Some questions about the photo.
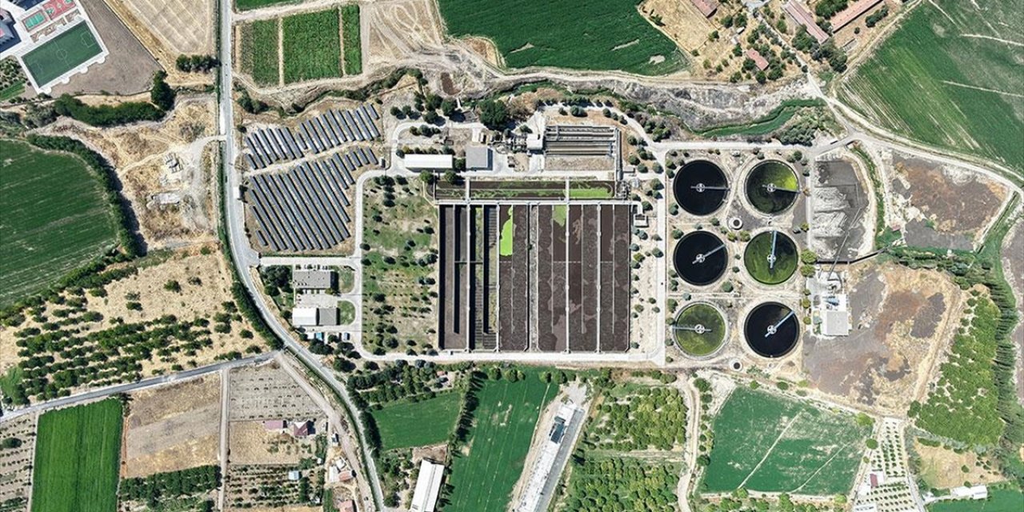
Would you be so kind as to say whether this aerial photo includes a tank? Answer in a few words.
Yes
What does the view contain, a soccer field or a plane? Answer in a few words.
soccer field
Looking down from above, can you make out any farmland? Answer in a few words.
Yes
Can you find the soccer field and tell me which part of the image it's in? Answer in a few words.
top left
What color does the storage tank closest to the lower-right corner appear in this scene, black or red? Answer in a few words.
black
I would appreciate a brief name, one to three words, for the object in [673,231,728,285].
storage tank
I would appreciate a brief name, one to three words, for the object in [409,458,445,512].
shed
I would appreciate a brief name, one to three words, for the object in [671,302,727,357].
storage tank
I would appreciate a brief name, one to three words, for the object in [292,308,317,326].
building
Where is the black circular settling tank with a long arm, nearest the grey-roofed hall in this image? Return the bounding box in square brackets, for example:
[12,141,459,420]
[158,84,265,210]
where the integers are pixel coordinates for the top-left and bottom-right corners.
[744,302,800,359]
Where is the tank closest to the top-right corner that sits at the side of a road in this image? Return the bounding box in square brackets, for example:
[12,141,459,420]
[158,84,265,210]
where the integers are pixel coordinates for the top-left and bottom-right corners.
[745,160,802,215]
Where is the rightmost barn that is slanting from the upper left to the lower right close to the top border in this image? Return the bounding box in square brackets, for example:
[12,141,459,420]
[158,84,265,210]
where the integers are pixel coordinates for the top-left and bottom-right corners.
[784,1,828,43]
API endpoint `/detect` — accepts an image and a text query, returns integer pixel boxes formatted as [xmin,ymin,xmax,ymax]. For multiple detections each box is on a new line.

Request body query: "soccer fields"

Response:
[22,20,102,87]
